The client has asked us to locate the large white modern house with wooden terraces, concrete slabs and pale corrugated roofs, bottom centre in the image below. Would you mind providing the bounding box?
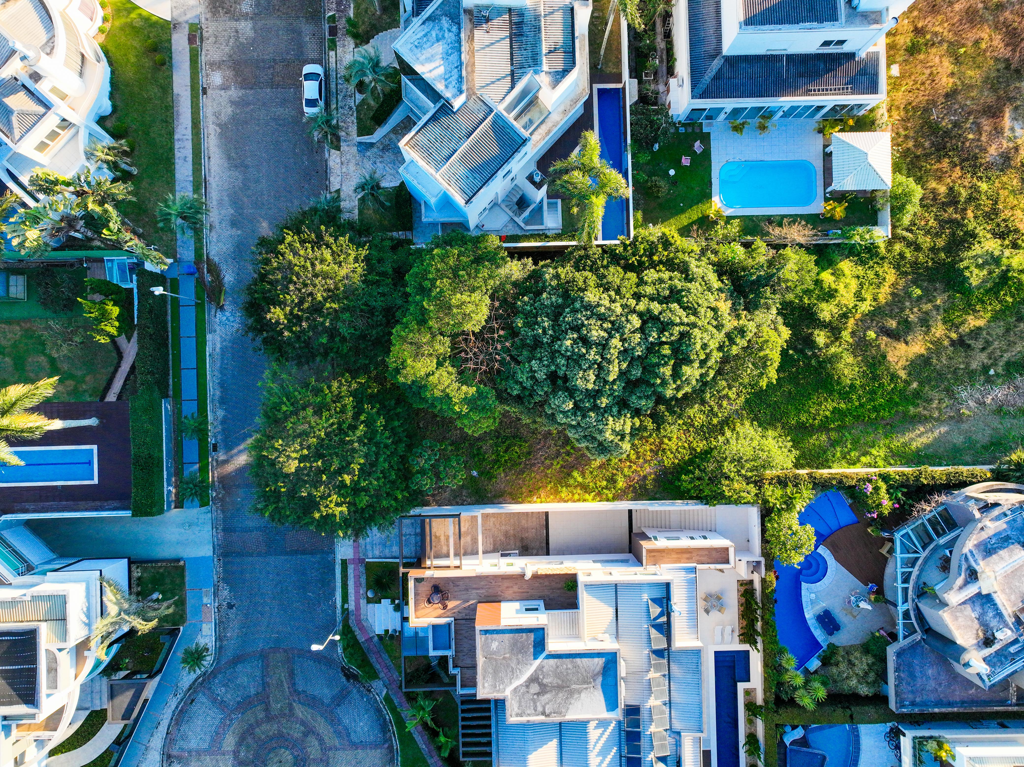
[404,510,765,767]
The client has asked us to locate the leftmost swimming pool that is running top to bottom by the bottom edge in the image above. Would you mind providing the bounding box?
[710,646,751,767]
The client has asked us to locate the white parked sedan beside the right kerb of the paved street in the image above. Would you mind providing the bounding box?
[301,65,326,117]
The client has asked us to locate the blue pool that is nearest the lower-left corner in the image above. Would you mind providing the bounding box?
[0,445,98,487]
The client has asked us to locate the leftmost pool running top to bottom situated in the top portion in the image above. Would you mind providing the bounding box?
[597,88,626,241]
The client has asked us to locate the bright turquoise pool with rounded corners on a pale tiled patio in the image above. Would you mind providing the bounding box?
[718,158,818,208]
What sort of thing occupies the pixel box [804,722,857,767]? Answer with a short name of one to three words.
swimming pool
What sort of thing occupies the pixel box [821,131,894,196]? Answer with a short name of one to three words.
building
